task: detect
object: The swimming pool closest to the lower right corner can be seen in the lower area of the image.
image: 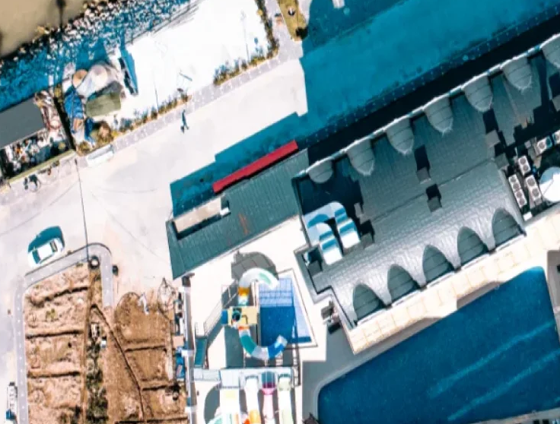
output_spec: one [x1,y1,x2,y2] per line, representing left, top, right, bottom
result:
[313,264,560,424]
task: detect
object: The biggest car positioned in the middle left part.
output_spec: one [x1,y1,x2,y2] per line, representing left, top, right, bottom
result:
[23,235,65,265]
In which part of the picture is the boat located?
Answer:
top left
